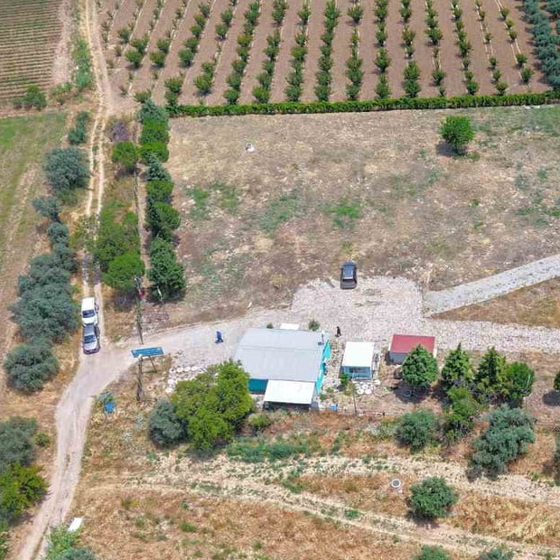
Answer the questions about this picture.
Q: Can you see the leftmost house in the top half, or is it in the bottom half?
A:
bottom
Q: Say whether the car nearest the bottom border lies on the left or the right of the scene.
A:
left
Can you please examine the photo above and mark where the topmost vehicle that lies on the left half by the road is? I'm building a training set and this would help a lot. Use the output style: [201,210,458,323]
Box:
[78,291,98,325]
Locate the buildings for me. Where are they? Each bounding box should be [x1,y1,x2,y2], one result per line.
[390,331,437,365]
[341,341,378,380]
[229,322,334,417]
